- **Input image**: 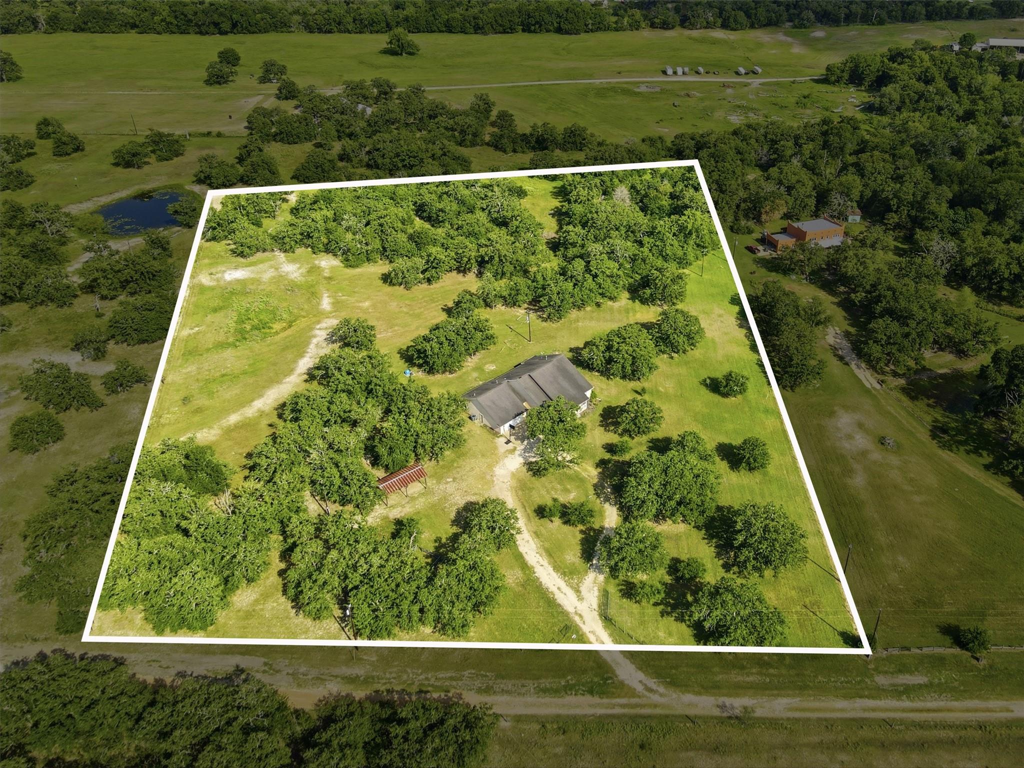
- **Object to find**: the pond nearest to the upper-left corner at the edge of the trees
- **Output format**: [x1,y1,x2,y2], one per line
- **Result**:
[101,193,190,236]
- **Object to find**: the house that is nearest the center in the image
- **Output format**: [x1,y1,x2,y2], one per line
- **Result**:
[453,358,597,437]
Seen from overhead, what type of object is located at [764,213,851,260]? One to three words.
building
